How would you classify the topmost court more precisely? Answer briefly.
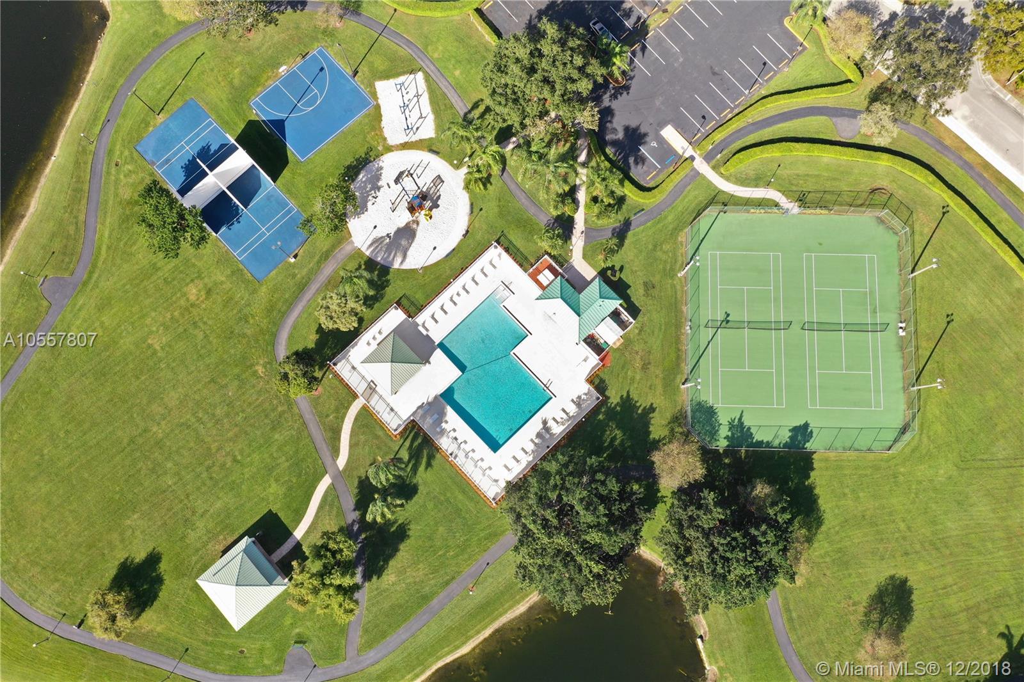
basketball court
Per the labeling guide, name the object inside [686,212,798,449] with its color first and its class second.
green tennis court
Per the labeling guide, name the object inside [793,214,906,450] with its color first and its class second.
green tennis court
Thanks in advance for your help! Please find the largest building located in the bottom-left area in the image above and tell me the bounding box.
[196,536,289,632]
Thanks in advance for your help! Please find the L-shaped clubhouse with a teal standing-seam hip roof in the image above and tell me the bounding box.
[535,275,623,344]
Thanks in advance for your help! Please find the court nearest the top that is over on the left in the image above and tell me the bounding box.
[249,45,376,161]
